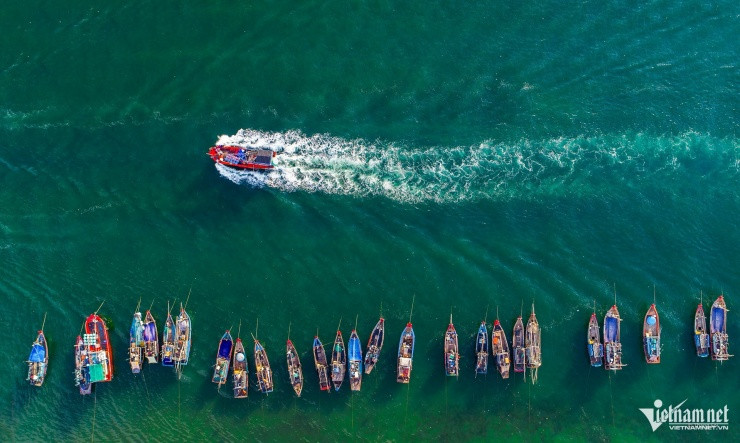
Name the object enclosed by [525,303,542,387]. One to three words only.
boat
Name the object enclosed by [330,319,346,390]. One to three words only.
boat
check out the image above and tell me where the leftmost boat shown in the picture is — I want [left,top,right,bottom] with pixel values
[27,314,49,385]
